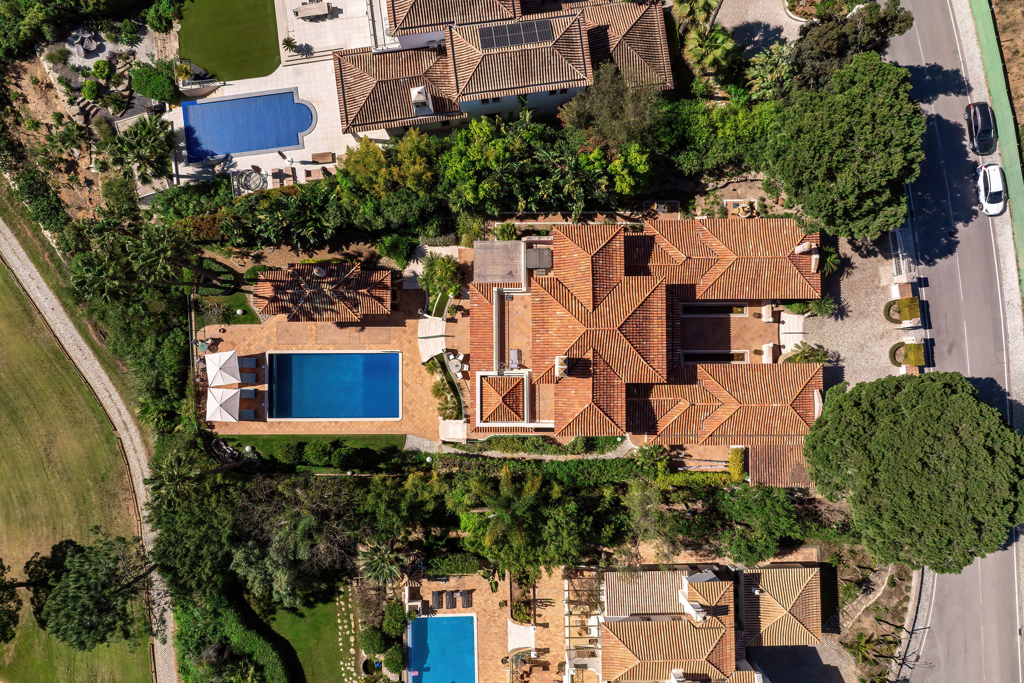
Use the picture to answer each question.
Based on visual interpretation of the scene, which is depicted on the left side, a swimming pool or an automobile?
swimming pool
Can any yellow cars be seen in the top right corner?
No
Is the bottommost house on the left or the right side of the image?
right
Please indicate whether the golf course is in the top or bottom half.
bottom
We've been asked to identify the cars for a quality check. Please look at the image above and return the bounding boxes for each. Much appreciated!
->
[965,101,1000,157]
[974,163,1009,218]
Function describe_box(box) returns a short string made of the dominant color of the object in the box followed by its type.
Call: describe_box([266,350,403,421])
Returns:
blue swimming pool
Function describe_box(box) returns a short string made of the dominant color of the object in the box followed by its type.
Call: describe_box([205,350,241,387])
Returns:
white umbrella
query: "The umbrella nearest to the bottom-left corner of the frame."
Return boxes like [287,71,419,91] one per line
[206,388,240,422]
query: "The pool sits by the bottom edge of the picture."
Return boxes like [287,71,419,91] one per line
[409,613,478,683]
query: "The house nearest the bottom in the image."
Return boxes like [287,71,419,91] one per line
[599,554,823,683]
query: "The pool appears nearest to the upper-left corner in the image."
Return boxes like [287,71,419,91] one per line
[182,87,318,167]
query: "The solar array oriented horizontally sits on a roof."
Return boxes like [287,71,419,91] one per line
[479,20,553,49]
